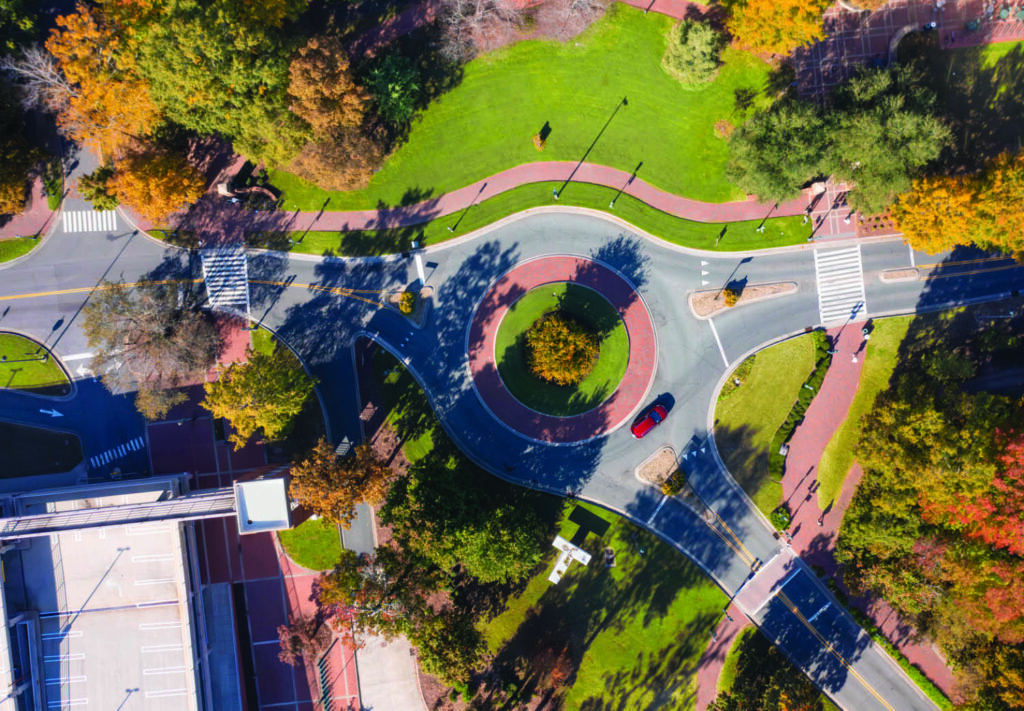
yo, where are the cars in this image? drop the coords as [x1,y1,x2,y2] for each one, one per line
[631,406,667,440]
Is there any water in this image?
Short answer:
No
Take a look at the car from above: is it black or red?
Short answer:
red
